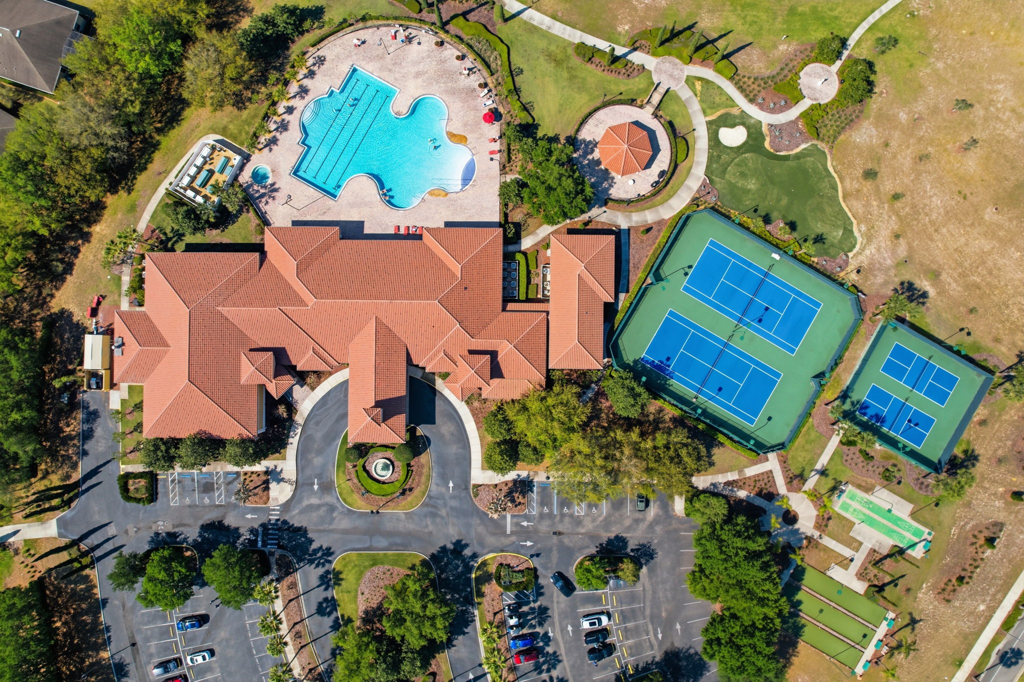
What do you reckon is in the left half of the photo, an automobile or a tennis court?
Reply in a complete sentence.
Looking in the left half of the photo, you will find an automobile.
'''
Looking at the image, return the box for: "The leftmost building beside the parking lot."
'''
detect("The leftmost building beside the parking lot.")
[85,335,111,393]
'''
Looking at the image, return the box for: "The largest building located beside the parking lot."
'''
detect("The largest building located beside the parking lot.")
[112,226,549,444]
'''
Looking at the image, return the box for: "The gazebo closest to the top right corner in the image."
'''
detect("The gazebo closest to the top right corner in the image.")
[597,121,653,179]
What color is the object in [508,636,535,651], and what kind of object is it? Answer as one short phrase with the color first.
blue car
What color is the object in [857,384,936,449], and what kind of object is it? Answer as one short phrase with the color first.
blue sports court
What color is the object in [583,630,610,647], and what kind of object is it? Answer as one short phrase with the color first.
black car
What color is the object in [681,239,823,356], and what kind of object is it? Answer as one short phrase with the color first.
blue tennis court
